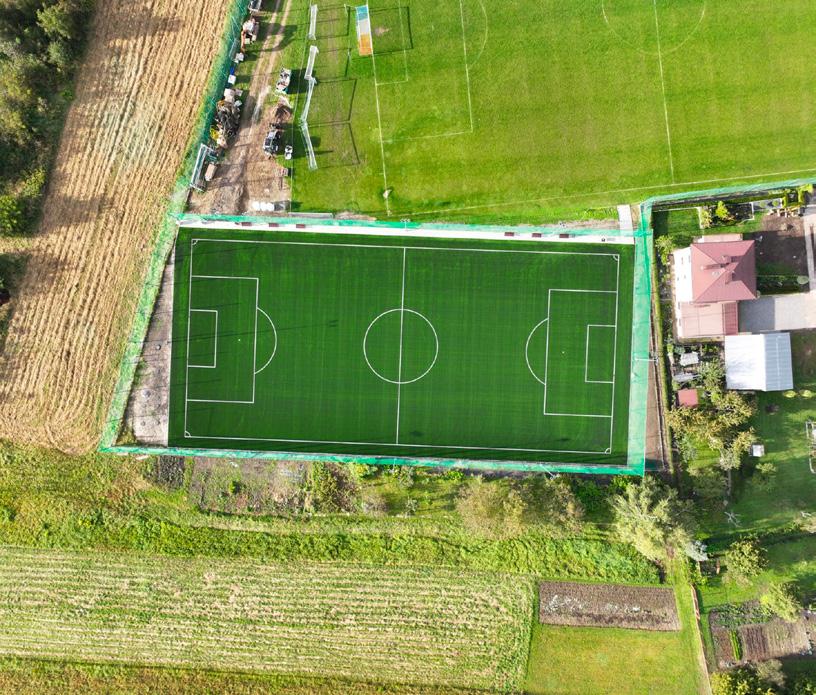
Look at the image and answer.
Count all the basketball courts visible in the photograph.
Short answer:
0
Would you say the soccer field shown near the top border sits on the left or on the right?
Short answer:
right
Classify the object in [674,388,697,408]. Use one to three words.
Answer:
shed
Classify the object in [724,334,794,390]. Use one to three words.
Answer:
shed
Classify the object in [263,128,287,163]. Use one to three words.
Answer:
work vehicle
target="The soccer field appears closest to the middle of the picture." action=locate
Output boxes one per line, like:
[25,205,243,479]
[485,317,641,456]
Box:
[168,229,635,465]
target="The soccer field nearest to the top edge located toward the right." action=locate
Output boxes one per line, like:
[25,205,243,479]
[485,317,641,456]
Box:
[288,0,816,224]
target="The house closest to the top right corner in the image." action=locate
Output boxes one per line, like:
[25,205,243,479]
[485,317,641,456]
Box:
[673,234,758,337]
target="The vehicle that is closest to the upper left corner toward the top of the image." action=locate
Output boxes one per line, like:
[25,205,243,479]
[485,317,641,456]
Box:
[242,18,258,56]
